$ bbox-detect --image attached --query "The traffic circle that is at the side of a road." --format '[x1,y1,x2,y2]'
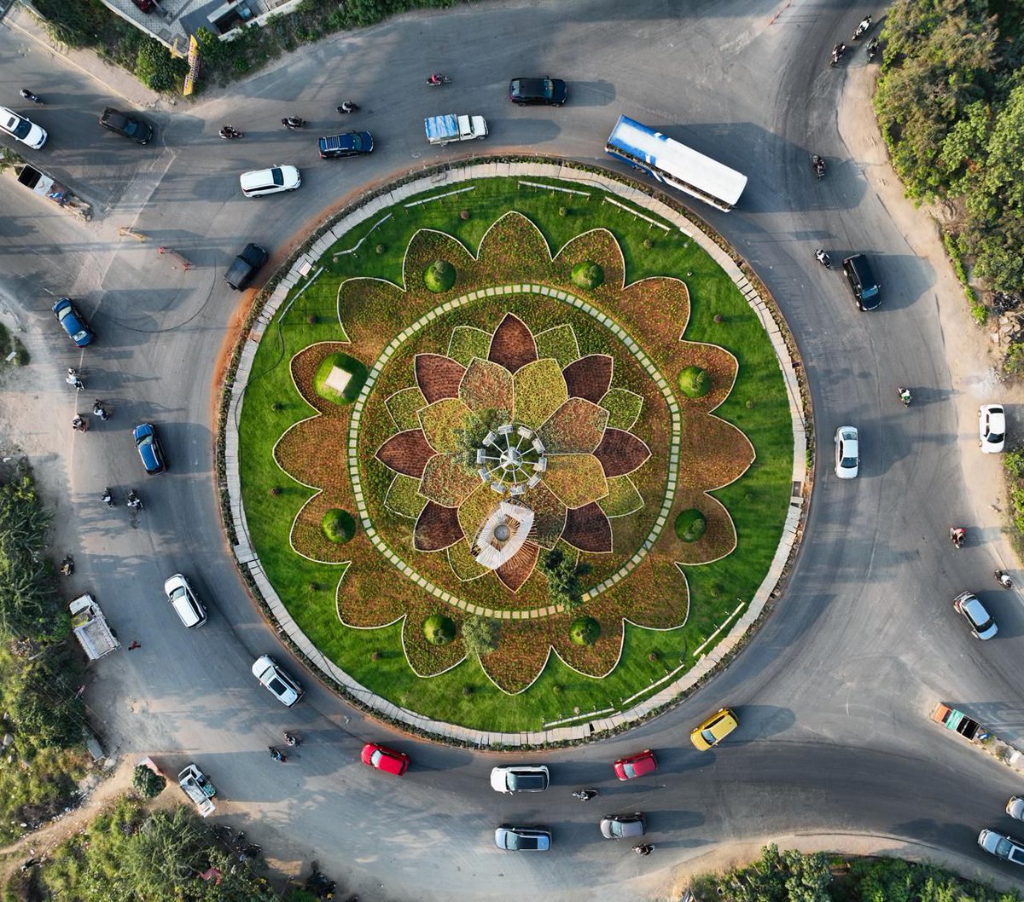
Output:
[213,150,817,756]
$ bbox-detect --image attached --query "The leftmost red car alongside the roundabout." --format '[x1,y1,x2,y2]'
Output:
[361,740,410,776]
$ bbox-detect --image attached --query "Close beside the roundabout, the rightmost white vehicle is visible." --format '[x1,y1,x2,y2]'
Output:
[831,425,861,478]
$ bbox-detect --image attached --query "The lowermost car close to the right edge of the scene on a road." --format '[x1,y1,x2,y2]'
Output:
[975,830,1024,876]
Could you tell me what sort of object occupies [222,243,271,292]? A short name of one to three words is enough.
car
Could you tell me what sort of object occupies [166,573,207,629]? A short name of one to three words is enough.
car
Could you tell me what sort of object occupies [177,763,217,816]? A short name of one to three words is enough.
van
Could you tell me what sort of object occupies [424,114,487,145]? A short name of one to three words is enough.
truck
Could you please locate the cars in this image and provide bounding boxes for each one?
[251,655,304,706]
[496,822,551,854]
[361,740,410,776]
[240,164,301,197]
[689,709,739,748]
[842,254,882,310]
[222,243,271,292]
[1002,798,1024,829]
[97,104,157,147]
[952,590,992,639]
[831,425,861,478]
[975,830,1024,876]
[599,811,646,841]
[975,403,1006,453]
[55,298,96,349]
[491,764,548,795]
[0,102,53,148]
[166,573,207,629]
[510,76,567,108]
[318,128,374,160]
[613,748,658,782]
[132,423,169,476]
